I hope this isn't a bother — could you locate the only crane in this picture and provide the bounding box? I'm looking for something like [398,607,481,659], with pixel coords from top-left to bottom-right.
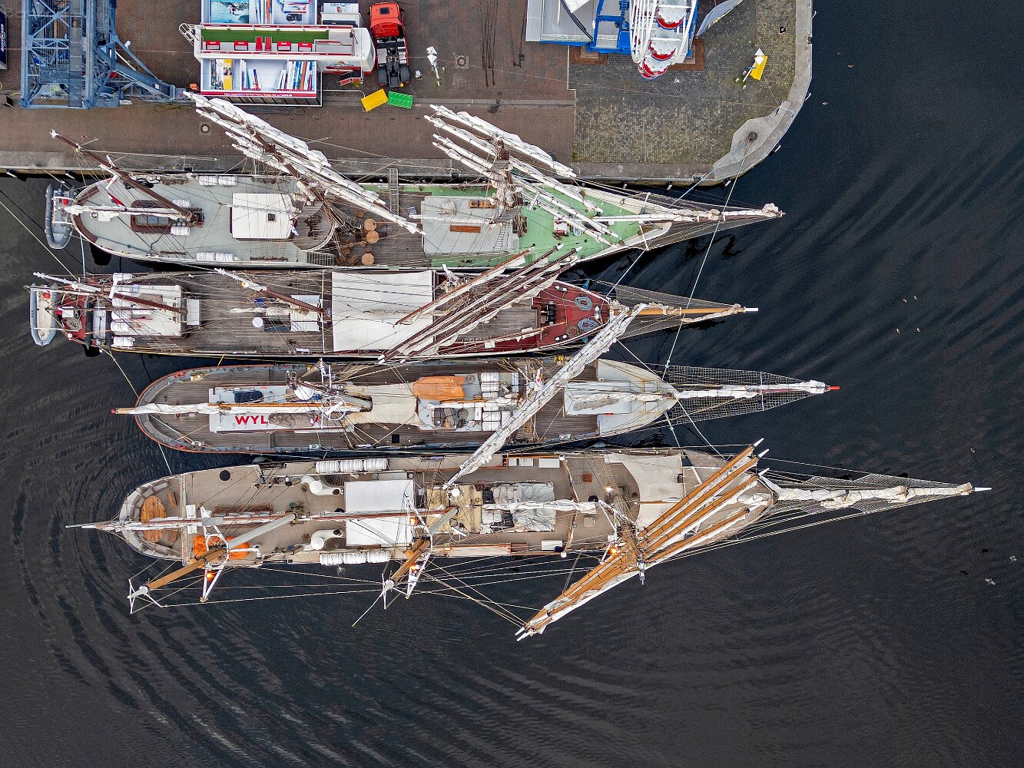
[16,0,191,114]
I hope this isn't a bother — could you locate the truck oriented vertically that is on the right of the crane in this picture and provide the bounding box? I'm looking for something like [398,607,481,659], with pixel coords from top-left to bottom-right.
[367,3,410,88]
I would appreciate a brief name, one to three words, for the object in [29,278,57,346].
boat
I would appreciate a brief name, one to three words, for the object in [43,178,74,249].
boat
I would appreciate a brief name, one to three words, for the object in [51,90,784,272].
ship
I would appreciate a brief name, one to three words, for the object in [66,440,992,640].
ship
